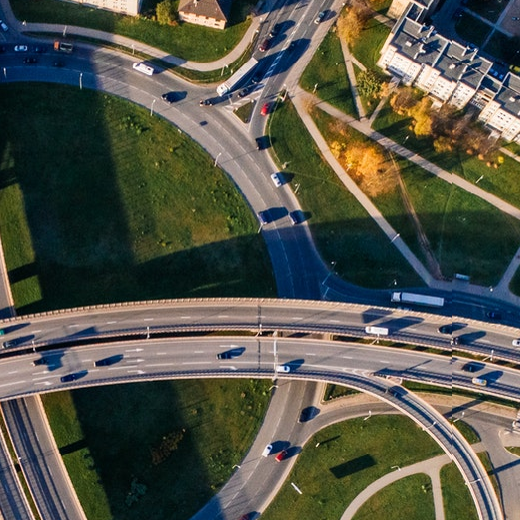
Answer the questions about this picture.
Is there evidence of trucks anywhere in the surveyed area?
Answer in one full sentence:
Yes, the picture does show a truck.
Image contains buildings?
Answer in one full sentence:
Yes, there's a building down there.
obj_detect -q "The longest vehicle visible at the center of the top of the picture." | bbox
[218,54,260,96]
